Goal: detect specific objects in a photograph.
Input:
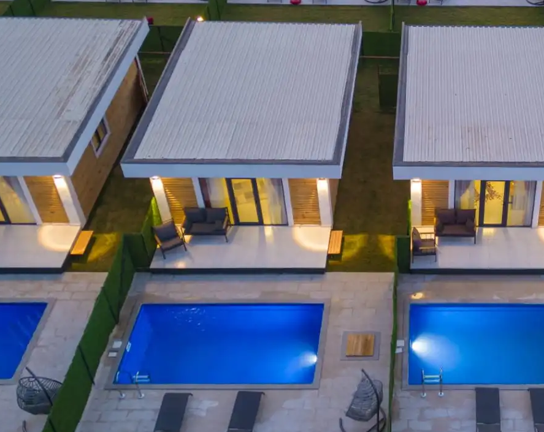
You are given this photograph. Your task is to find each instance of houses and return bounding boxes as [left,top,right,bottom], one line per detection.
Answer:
[0,16,150,273]
[392,21,544,276]
[124,18,361,275]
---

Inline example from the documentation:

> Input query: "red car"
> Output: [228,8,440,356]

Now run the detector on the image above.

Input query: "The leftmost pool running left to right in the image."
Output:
[102,296,332,391]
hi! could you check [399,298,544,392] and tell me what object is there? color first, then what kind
blue swimming pool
